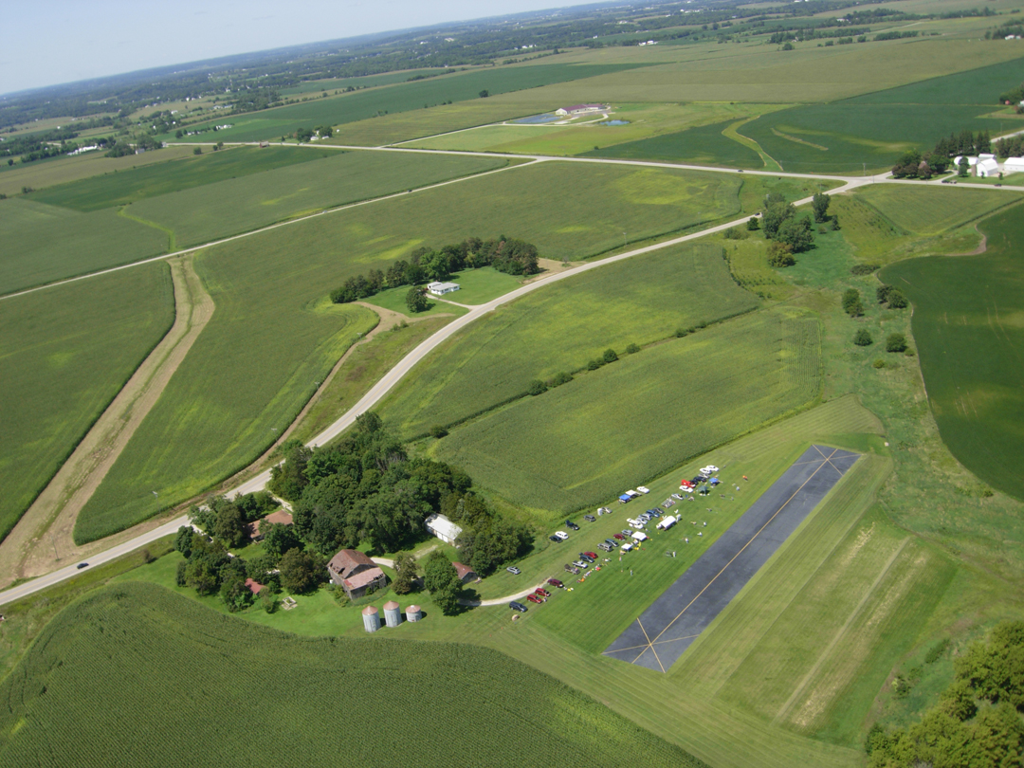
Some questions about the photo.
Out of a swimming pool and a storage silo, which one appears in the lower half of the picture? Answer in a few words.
storage silo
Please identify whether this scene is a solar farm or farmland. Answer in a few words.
farmland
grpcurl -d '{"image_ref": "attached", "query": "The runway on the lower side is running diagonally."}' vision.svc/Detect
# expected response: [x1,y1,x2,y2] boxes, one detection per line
[605,446,862,674]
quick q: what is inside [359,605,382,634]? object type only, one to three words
silo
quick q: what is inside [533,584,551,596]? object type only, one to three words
vehicle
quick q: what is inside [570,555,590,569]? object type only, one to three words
vehicle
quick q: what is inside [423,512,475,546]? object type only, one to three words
shed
